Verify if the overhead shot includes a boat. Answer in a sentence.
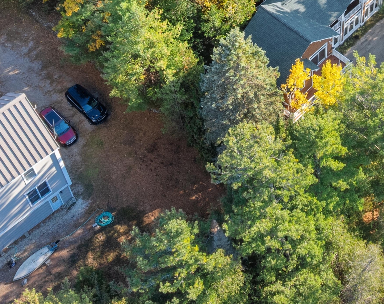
Yes, a boat is visible in the scene.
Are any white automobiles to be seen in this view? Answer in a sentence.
No, the frame has no white automobile in it.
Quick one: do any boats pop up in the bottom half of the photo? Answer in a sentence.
Yes, I can see a boat in the bottom half of the photo.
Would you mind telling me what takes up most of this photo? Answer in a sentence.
The bulk of the photo consists of trees.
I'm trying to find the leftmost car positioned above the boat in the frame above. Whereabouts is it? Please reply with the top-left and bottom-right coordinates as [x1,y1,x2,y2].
[37,102,80,153]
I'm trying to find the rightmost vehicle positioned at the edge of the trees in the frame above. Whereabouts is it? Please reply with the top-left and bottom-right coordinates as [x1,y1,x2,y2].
[63,81,109,132]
